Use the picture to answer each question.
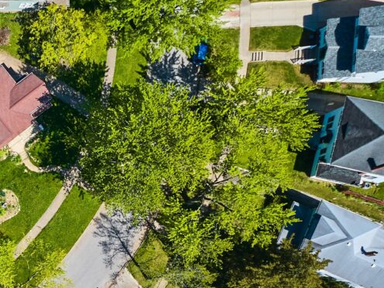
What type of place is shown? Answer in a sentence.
The picture captures a residential area.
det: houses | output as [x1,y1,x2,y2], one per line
[0,65,52,151]
[288,5,384,86]
[0,0,71,13]
[304,96,384,189]
[275,201,384,288]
